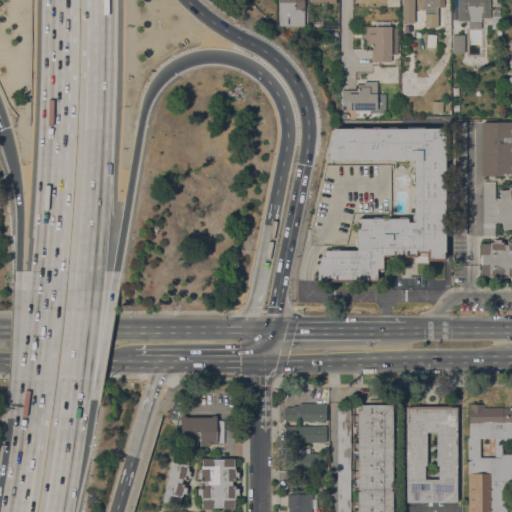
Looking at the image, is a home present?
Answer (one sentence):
Yes, a home can be made out from above.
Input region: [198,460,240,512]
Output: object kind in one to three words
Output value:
building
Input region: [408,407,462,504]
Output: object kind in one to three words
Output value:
building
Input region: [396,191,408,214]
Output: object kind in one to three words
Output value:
swimming pool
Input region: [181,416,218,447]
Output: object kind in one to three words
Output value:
house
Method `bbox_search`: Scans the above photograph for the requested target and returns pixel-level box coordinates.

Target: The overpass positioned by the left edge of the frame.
[6,272,122,418]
